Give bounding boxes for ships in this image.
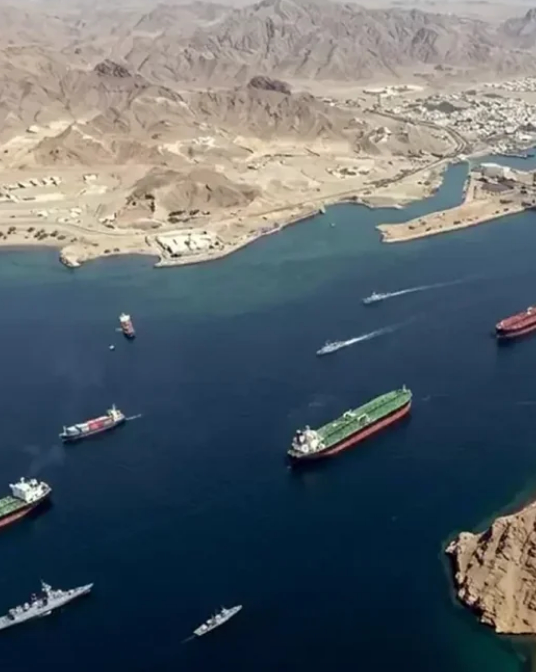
[0,471,50,527]
[289,393,413,459]
[363,291,390,302]
[0,582,90,629]
[63,406,125,440]
[497,310,536,334]
[317,341,346,353]
[196,606,239,634]
[117,310,137,338]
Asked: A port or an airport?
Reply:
port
